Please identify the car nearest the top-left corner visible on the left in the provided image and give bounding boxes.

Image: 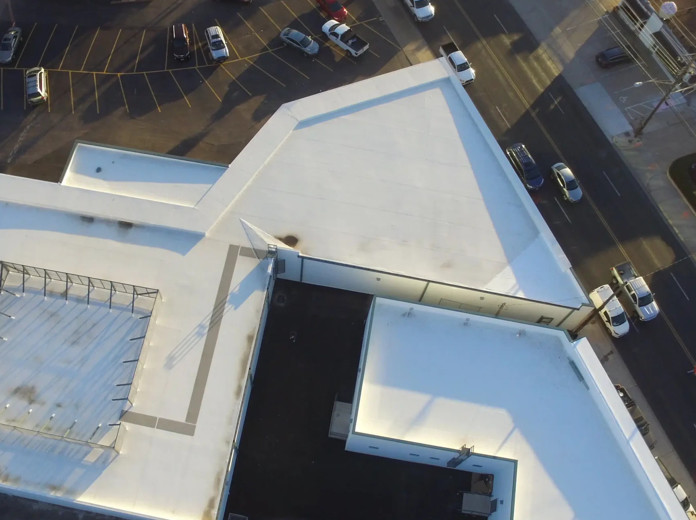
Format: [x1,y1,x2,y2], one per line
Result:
[0,26,24,64]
